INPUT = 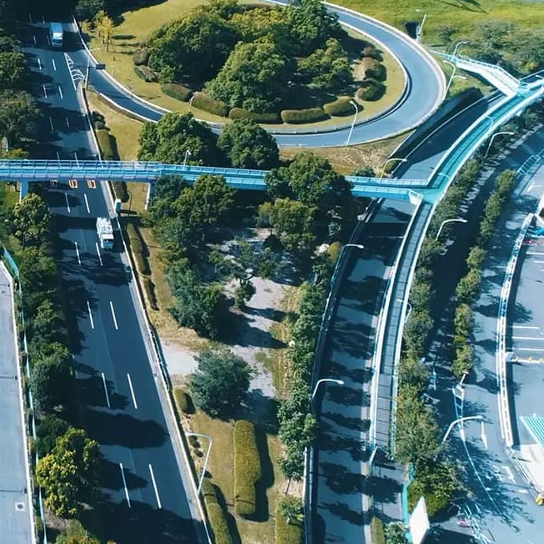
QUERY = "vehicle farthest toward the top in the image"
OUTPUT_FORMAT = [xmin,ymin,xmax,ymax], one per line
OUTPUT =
[49,21,63,46]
